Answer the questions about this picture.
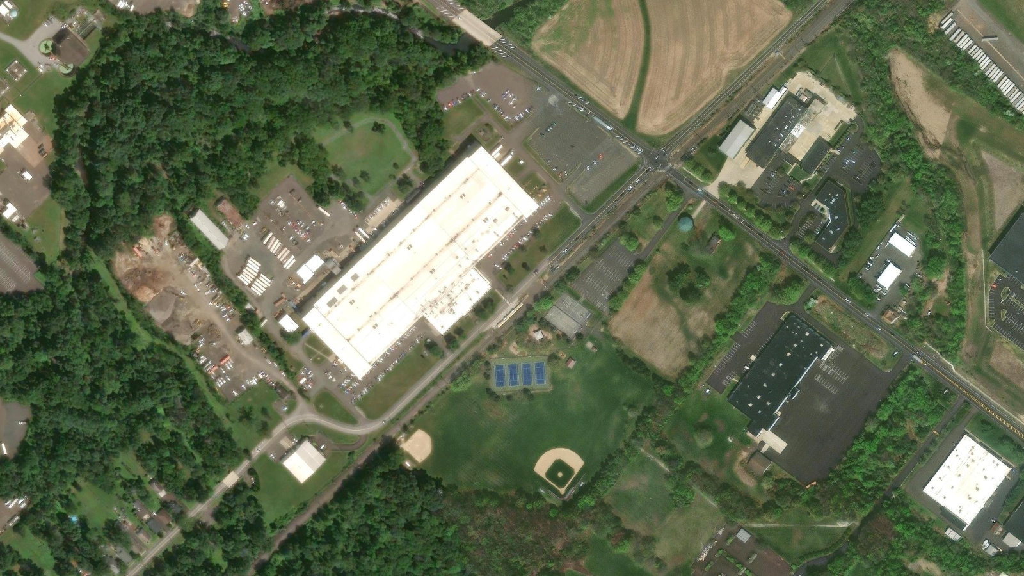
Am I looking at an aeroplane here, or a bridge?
bridge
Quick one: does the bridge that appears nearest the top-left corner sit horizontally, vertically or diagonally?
diagonally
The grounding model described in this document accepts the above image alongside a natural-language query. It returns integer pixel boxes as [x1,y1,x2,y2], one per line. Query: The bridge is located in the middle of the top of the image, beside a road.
[452,9,502,46]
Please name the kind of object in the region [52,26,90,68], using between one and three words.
building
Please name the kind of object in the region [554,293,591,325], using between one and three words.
basketball court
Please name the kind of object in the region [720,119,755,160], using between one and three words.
hangar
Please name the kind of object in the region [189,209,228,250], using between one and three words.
shed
